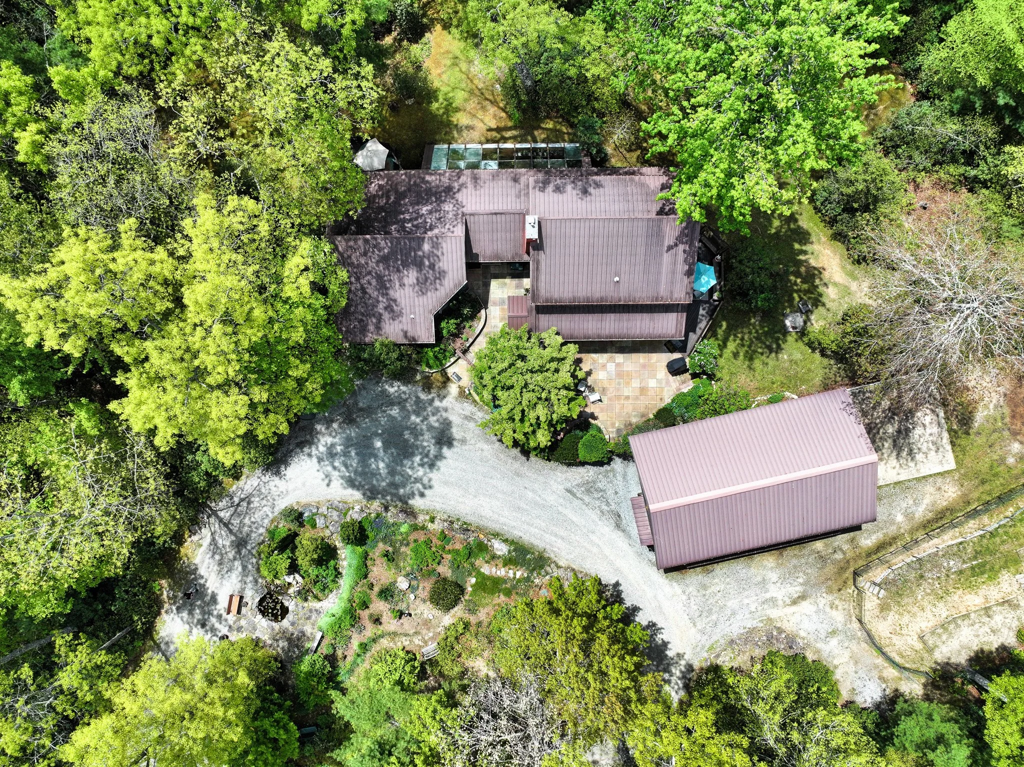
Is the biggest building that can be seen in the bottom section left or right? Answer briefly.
right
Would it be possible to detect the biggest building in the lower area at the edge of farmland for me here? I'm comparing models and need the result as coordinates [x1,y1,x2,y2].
[625,388,880,571]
